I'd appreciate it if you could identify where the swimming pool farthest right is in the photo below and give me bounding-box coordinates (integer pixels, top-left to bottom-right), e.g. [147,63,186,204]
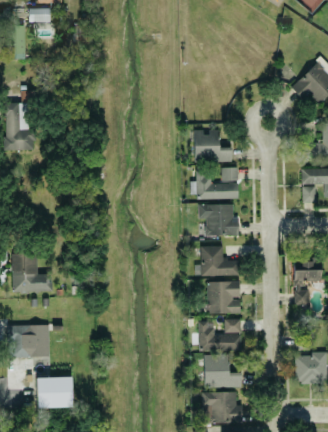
[310,288,324,316]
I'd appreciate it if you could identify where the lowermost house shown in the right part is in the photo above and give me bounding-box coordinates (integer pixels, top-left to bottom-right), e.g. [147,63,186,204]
[202,392,242,424]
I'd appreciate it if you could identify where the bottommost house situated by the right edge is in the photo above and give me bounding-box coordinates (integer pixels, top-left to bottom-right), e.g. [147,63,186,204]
[296,352,328,385]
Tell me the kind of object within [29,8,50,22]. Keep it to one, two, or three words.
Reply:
house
